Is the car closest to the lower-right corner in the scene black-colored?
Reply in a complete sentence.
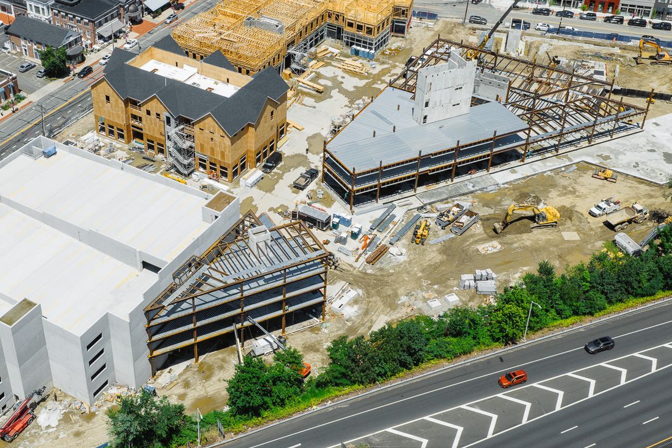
Yes, the car closest to the lower-right corner is black.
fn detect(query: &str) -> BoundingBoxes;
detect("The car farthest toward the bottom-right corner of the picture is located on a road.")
[585,333,615,353]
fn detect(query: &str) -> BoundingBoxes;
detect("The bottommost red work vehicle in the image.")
[0,399,38,439]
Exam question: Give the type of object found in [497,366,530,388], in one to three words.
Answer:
car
